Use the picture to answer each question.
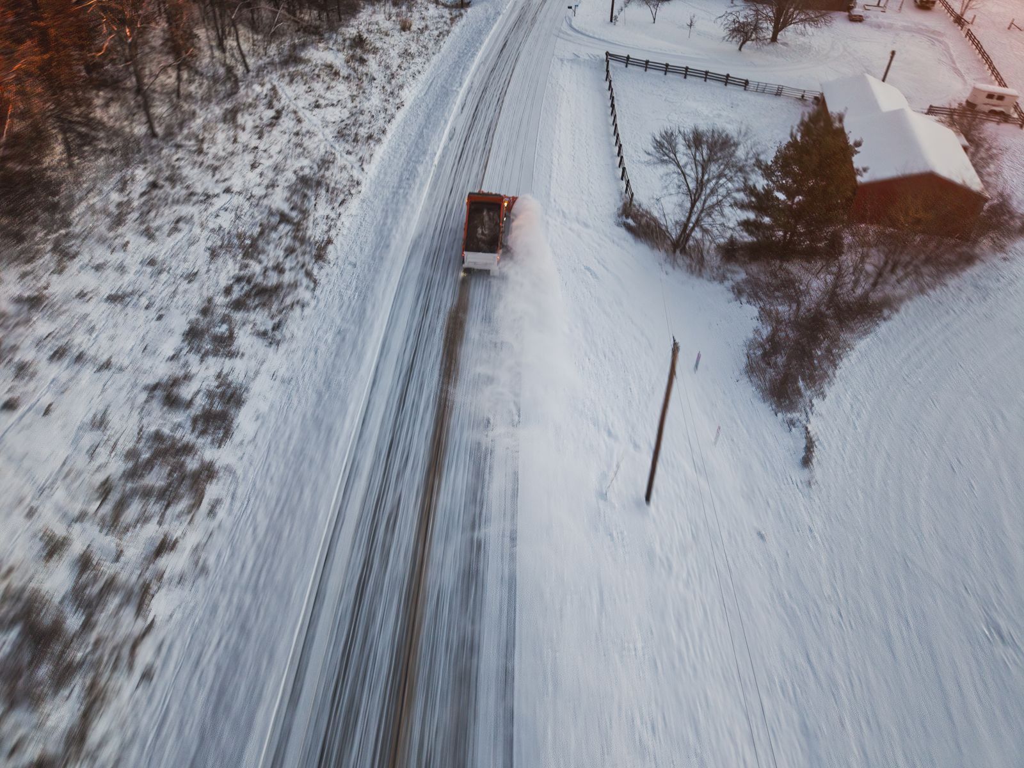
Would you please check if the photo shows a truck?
Yes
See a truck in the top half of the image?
Yes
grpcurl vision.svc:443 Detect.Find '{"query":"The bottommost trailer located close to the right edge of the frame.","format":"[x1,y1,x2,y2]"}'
[959,77,1024,112]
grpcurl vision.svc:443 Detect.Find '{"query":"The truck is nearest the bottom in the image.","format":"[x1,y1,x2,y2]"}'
[460,190,527,286]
